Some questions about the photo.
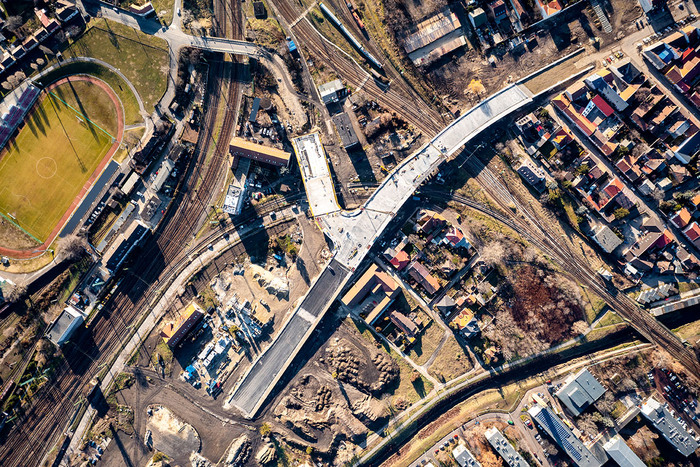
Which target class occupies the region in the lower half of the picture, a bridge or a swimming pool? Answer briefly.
bridge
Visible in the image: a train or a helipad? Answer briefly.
train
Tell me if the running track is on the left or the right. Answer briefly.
left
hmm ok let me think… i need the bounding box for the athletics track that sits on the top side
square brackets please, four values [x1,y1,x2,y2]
[0,75,124,258]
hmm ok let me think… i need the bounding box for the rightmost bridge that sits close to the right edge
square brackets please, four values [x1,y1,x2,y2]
[632,311,696,375]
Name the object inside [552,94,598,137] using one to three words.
house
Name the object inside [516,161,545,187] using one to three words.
house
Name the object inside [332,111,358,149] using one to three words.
building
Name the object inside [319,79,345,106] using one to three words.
building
